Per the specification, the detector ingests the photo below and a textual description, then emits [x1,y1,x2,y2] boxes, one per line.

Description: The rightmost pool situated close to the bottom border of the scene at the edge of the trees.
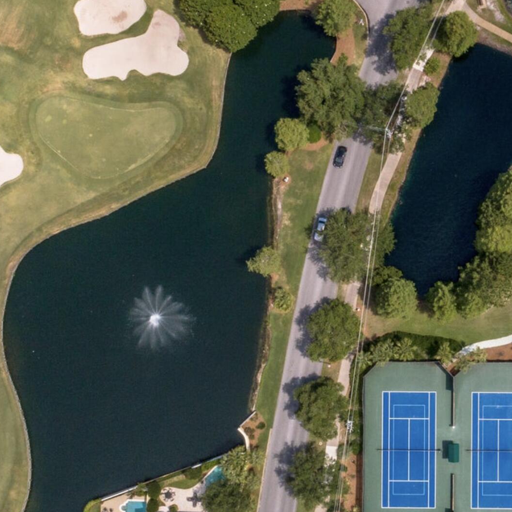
[202,464,228,489]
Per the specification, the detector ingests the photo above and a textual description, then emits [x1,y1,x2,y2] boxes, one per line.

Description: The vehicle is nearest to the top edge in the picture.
[333,145,346,167]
